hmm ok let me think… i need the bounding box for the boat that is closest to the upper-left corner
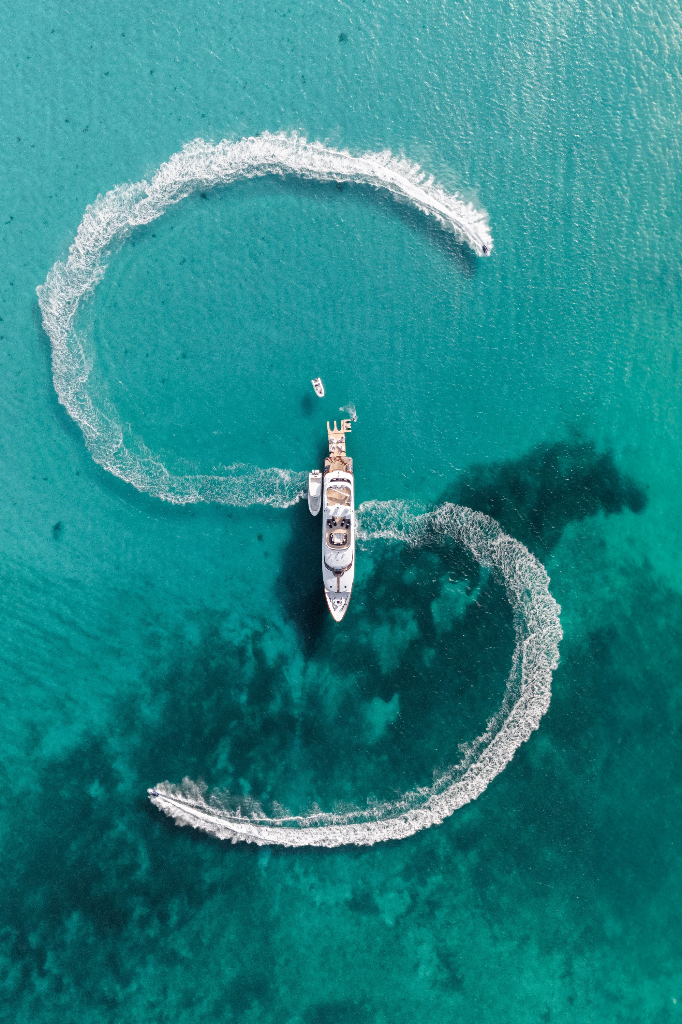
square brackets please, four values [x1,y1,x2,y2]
[311,377,324,396]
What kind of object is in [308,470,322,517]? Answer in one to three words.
boat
